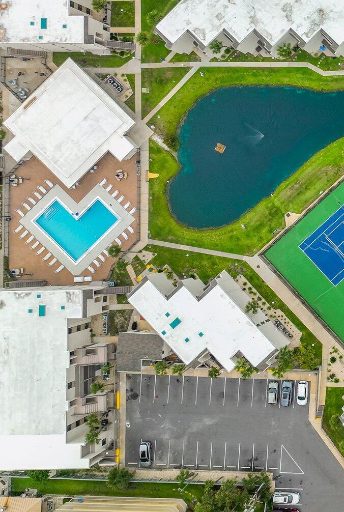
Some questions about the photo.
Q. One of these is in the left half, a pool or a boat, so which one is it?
pool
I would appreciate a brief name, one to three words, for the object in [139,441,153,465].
vehicle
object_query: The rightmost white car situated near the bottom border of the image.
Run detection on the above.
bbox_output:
[275,491,299,504]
